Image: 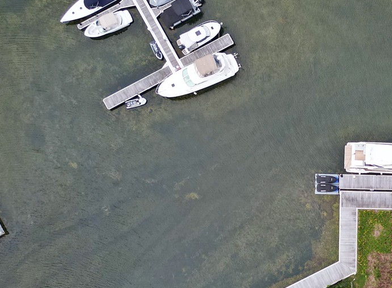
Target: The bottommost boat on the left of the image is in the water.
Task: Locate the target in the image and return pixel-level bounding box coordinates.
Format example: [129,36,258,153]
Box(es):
[125,98,146,111]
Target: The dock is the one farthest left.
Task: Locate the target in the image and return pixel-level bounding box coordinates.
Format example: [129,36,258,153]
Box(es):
[78,0,134,30]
